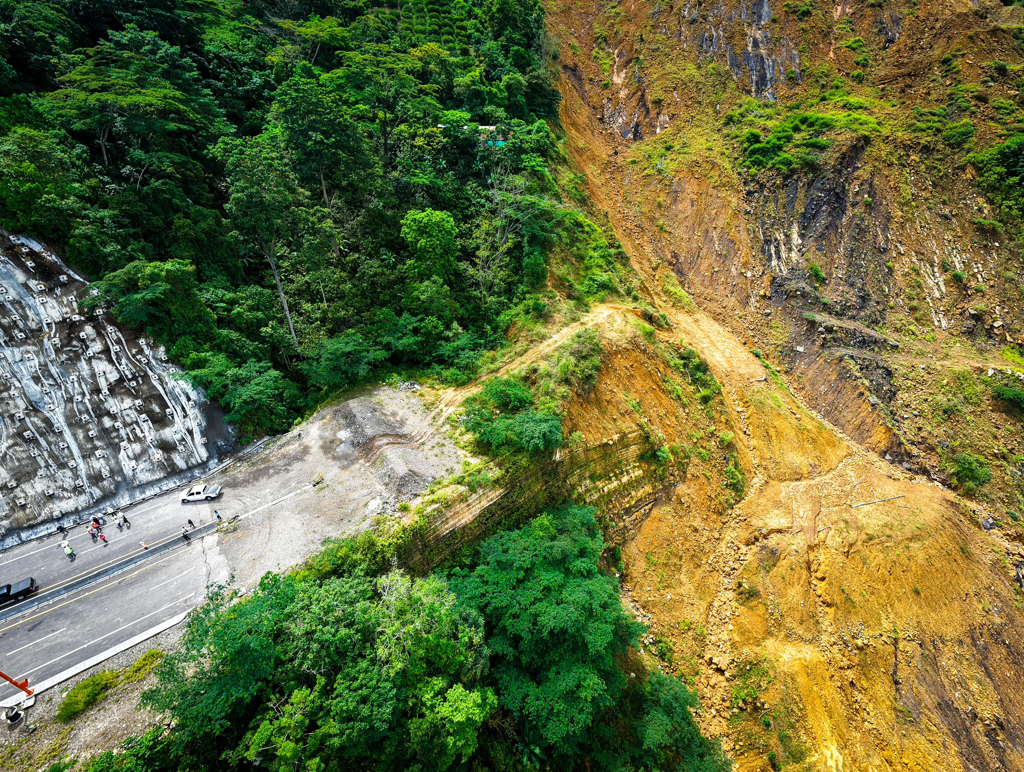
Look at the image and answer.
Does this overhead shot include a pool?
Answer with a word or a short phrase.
No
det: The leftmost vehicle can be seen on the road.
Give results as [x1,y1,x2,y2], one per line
[0,576,32,606]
